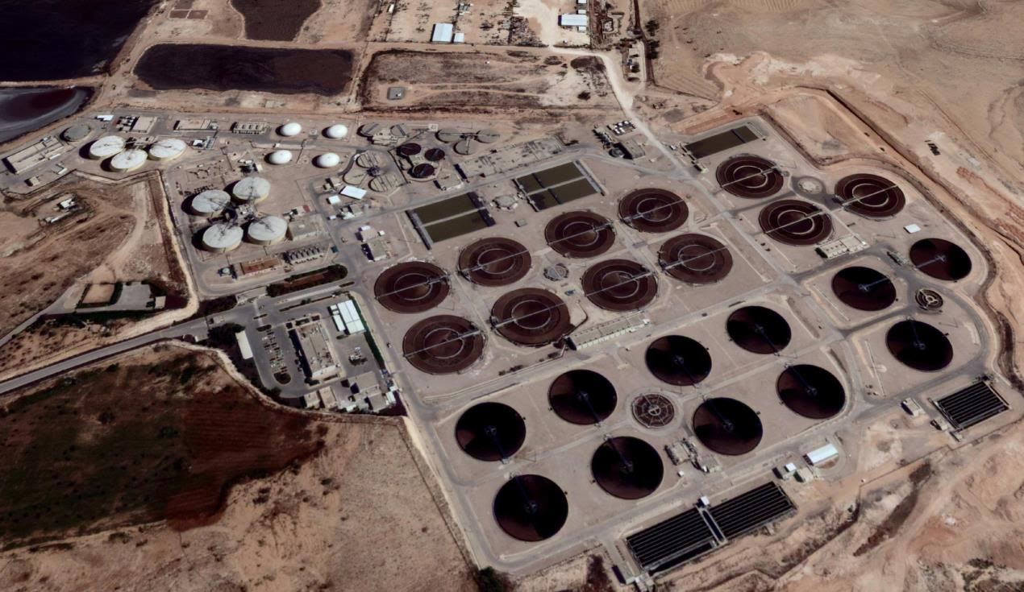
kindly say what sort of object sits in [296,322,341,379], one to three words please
building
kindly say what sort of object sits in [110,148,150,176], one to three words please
storage tank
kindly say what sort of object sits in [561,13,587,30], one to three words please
shed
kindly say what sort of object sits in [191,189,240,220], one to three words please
storage tank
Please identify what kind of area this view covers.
industrial area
